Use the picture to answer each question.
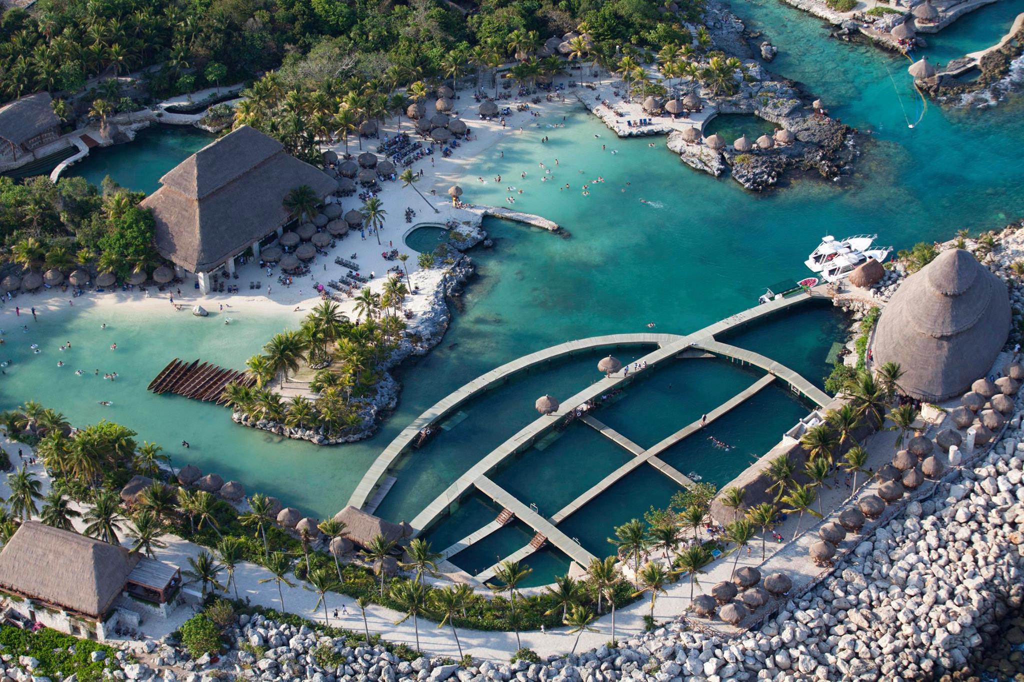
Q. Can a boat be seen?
Yes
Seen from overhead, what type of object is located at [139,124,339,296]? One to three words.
building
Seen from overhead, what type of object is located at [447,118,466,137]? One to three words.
umbrella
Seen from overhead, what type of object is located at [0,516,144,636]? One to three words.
shed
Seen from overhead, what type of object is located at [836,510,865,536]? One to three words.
umbrella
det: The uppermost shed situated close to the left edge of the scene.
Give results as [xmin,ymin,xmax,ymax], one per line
[0,98,62,157]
